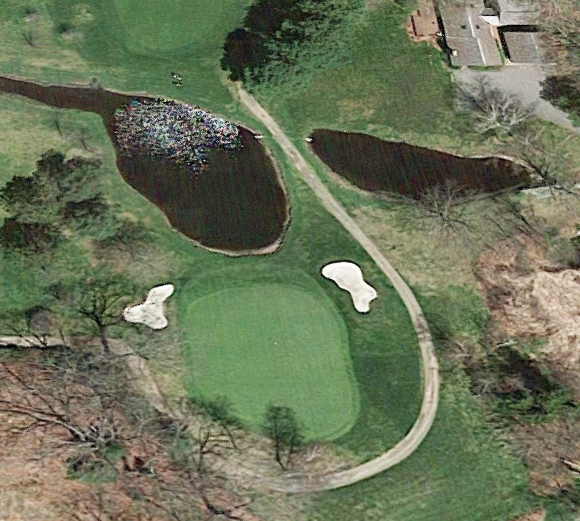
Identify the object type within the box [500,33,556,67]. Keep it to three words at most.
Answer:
building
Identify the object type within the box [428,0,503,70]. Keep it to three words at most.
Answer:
house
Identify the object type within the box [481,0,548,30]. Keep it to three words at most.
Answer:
house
